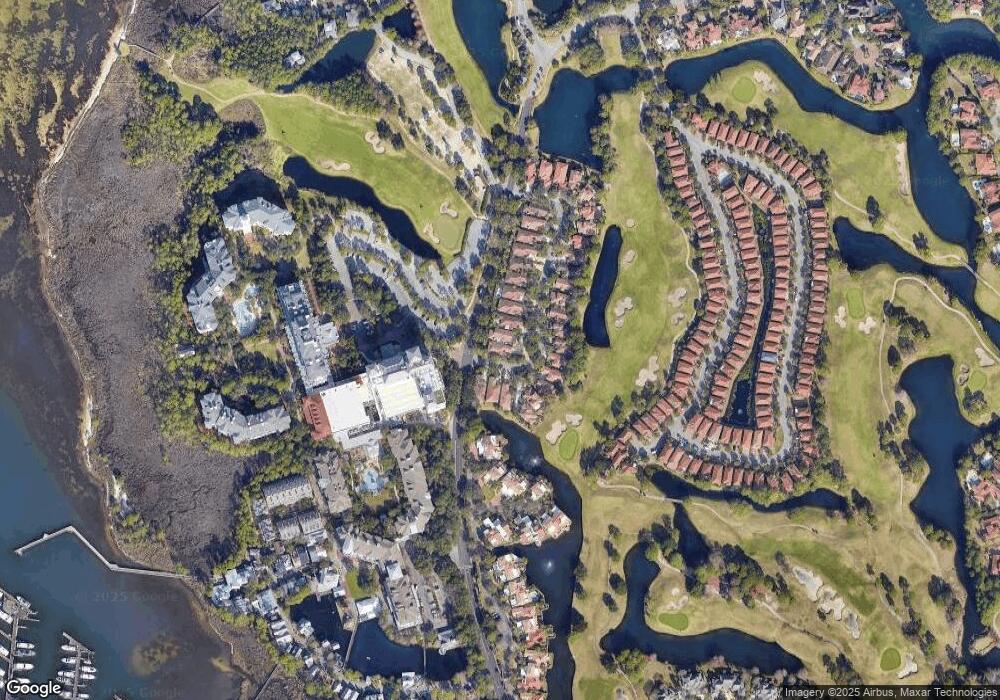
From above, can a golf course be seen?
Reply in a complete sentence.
Yes, the picture does show a golf course.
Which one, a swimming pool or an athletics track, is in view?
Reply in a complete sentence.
The image shows a swimming pool.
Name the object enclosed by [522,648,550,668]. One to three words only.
house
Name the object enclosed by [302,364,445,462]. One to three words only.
building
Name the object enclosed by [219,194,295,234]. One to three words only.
building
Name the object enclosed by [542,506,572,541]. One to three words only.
house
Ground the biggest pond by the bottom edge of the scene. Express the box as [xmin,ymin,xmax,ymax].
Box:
[292,595,470,680]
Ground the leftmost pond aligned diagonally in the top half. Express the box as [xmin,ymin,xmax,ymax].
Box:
[277,28,376,94]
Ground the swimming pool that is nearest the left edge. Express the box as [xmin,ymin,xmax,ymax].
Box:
[234,284,260,334]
